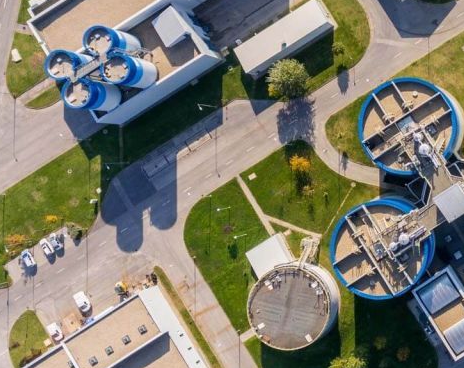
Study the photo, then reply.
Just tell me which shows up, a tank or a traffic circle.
tank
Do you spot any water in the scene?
No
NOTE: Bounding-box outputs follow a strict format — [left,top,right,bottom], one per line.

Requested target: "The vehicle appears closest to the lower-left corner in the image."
[45,323,63,342]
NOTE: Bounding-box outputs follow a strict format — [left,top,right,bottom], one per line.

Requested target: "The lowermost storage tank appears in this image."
[245,259,339,351]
